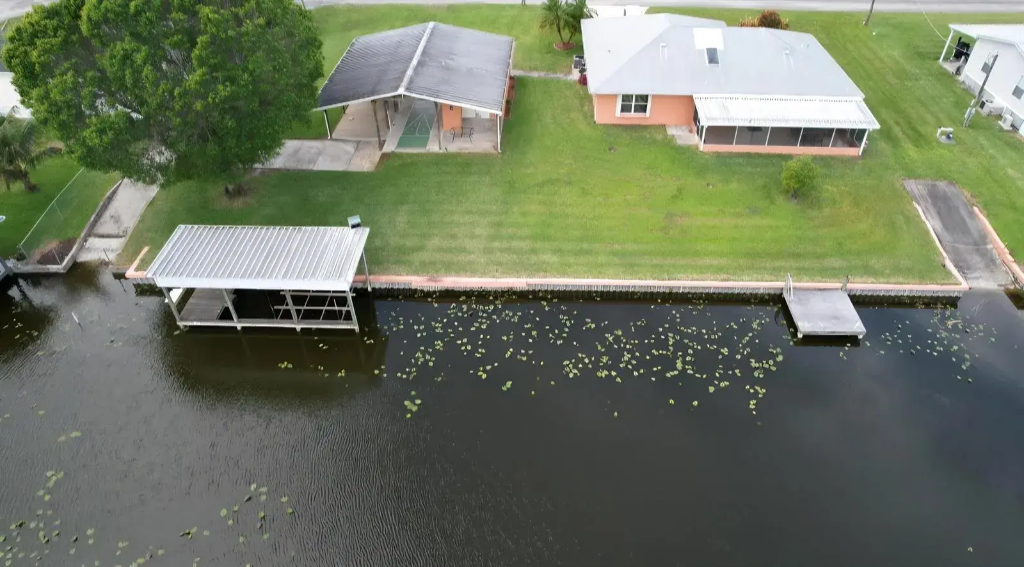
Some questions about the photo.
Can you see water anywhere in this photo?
Yes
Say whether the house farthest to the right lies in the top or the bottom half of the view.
top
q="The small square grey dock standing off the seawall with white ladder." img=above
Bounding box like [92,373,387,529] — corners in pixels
[781,275,869,345]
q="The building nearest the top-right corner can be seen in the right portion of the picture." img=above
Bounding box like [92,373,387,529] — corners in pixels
[927,20,1024,144]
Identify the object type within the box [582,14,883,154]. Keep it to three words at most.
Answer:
house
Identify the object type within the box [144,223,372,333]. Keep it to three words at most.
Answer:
building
